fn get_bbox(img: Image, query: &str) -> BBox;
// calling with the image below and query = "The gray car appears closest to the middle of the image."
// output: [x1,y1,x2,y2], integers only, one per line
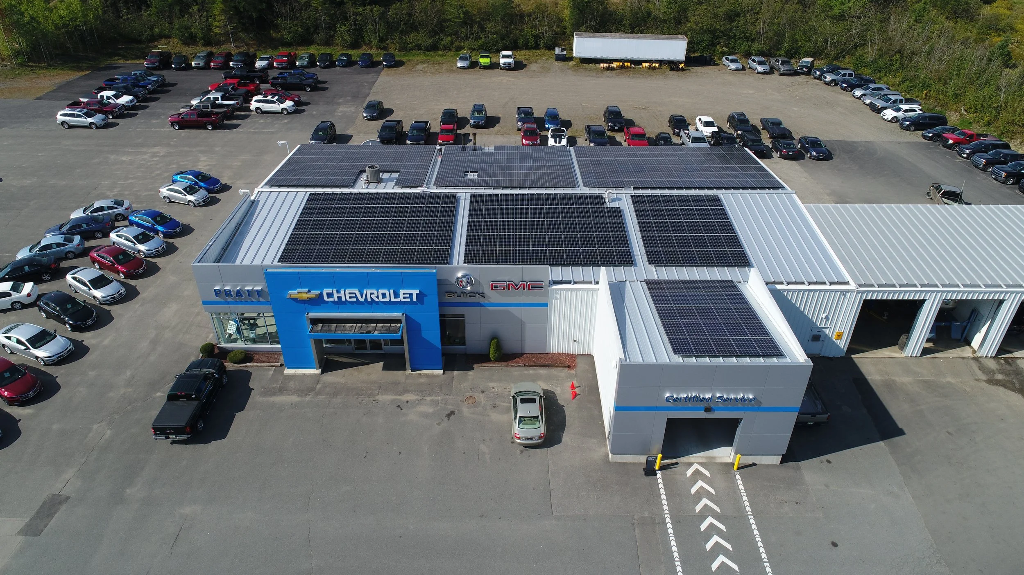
[509,379,546,442]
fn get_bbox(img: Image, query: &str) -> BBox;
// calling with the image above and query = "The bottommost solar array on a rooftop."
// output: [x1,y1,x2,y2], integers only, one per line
[647,278,784,354]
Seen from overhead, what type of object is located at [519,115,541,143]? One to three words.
car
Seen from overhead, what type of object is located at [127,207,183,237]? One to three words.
car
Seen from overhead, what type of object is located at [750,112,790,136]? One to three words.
truck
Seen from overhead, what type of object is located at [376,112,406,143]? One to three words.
truck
